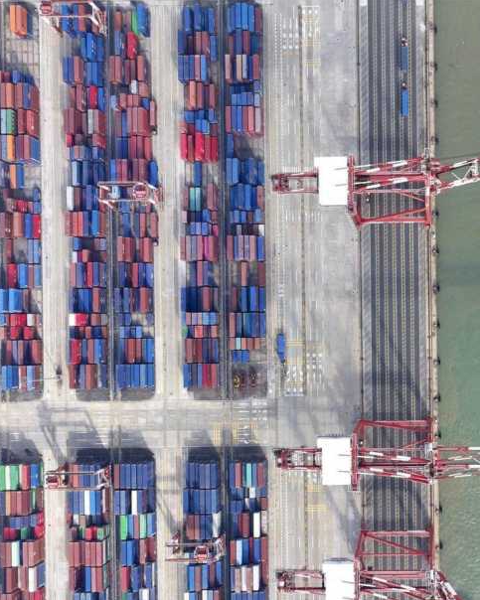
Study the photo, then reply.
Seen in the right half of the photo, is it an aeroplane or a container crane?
container crane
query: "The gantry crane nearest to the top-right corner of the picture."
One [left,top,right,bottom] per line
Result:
[272,151,480,244]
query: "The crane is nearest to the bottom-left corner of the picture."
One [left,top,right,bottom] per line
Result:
[39,455,117,491]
